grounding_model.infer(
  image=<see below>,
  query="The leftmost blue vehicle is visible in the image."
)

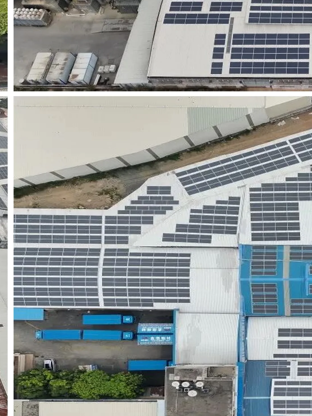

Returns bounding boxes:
[31,326,81,339]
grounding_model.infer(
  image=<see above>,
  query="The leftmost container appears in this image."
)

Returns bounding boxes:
[26,53,53,84]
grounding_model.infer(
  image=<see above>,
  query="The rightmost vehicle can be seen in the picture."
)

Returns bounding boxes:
[128,356,164,369]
